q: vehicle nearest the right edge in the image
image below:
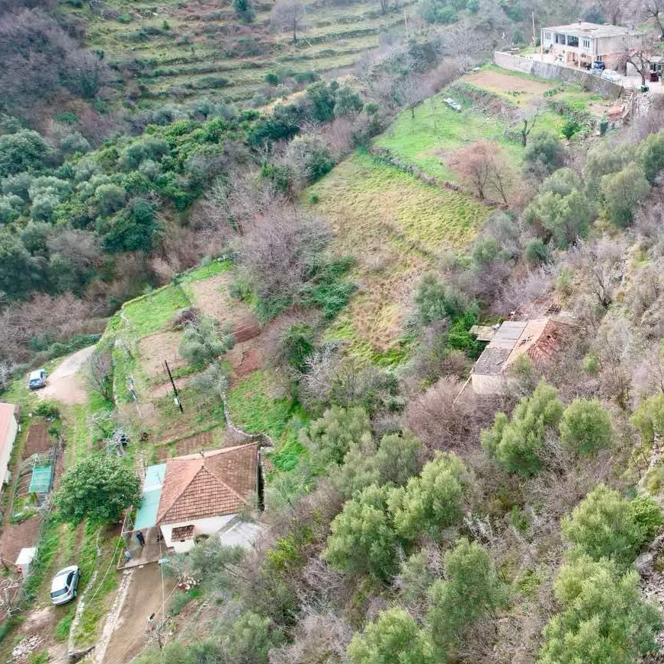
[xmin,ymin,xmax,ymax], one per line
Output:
[647,68,660,81]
